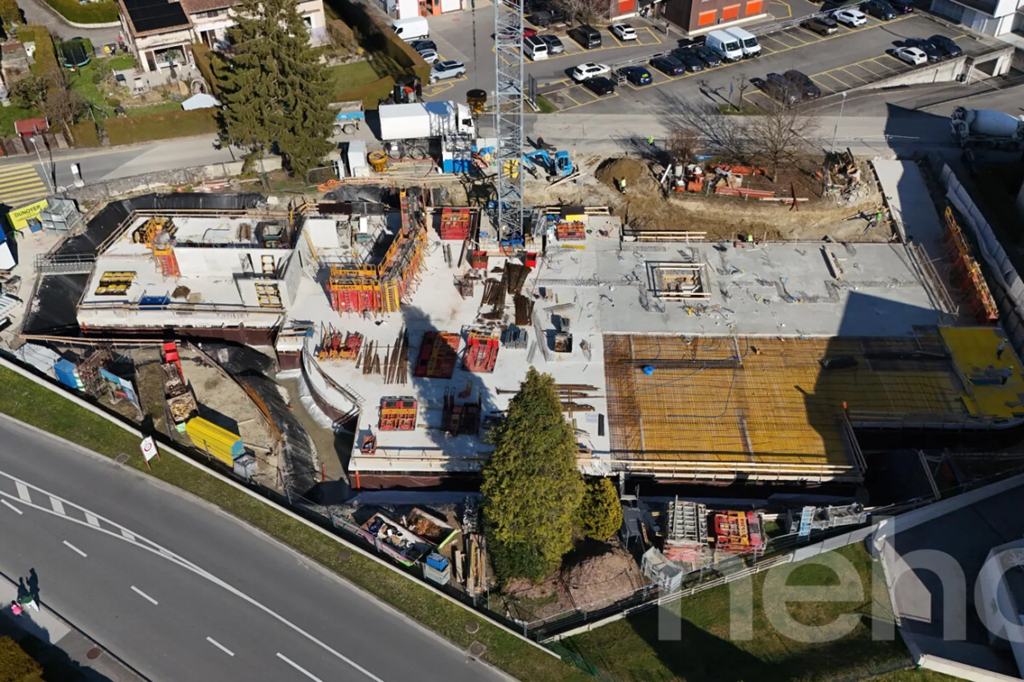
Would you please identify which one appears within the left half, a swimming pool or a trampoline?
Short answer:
trampoline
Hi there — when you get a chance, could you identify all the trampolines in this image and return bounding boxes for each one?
[54,36,91,64]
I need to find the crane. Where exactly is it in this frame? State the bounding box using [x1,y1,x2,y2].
[485,0,536,260]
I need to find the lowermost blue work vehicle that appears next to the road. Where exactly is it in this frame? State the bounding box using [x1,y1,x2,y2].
[523,146,579,177]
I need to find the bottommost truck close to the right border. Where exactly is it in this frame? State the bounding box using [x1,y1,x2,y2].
[938,108,1024,151]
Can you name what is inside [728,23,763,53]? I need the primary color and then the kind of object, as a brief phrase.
white van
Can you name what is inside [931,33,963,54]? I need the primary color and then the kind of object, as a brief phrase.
black car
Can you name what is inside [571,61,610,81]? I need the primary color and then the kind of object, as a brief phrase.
white car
